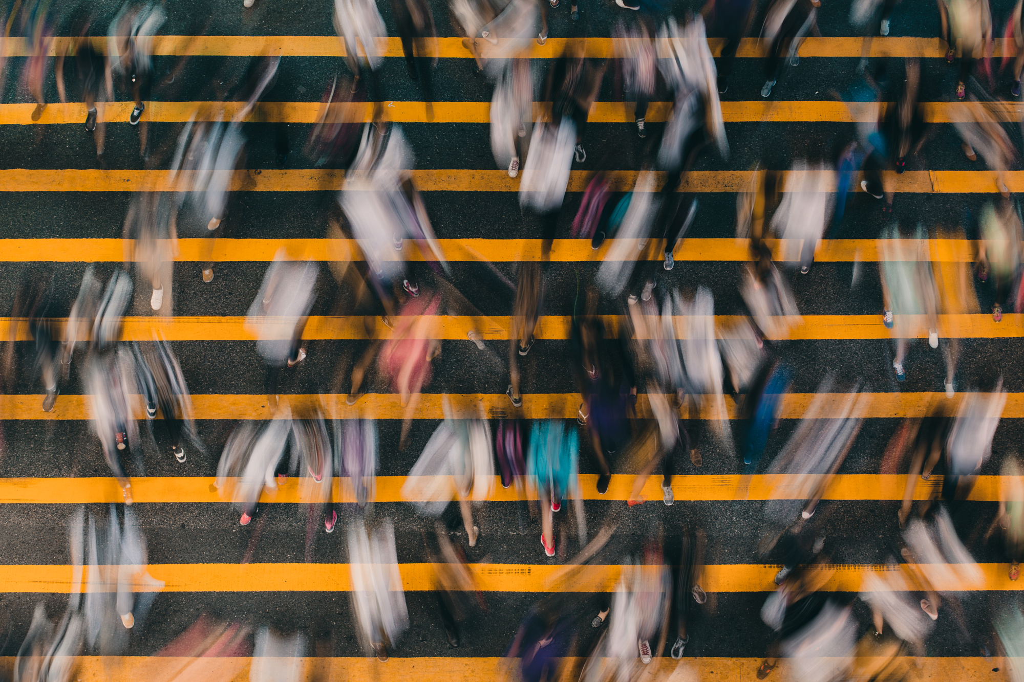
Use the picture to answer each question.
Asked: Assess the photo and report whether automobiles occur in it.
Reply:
No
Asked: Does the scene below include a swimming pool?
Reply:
No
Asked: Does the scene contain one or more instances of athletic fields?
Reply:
No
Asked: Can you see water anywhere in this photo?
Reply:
No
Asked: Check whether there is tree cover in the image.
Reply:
No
